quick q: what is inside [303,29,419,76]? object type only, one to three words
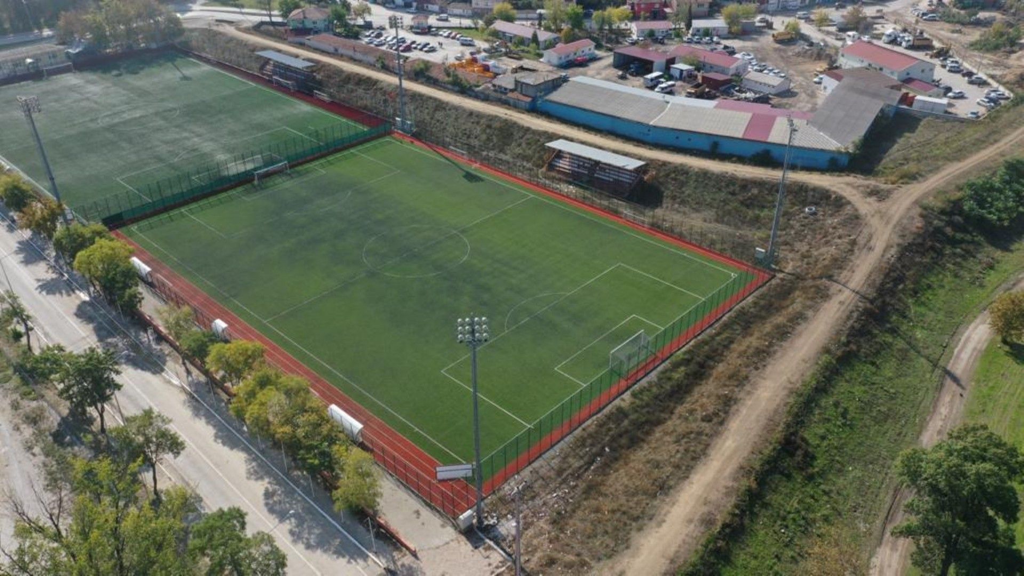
shed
